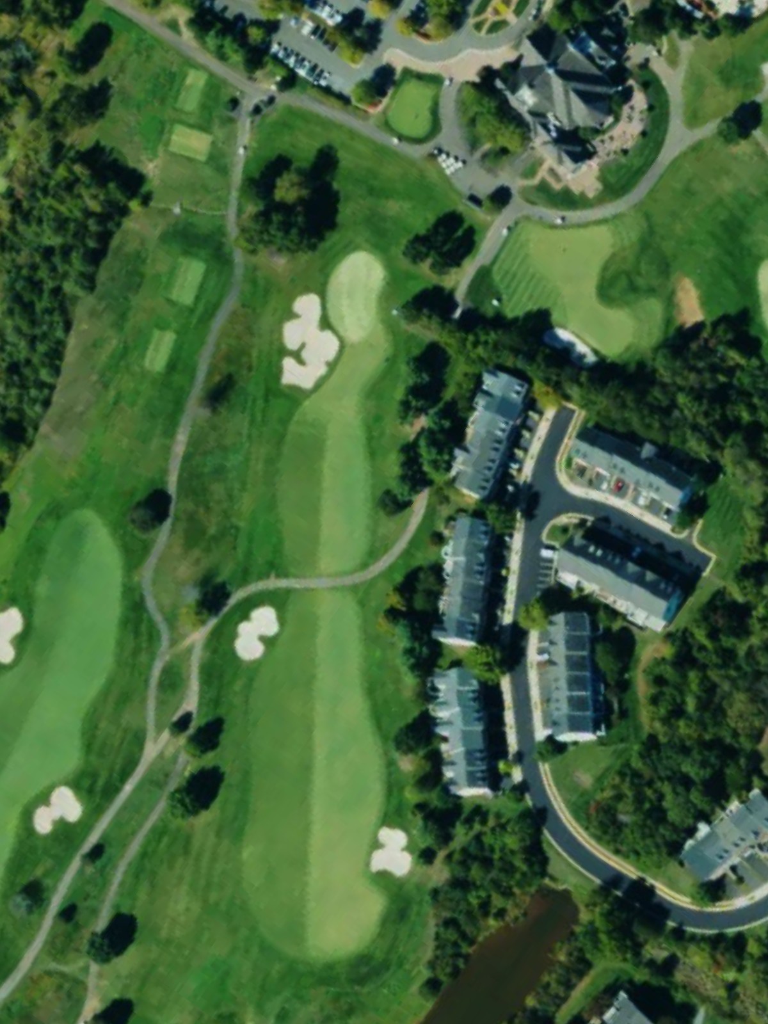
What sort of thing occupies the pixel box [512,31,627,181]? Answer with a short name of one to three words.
building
